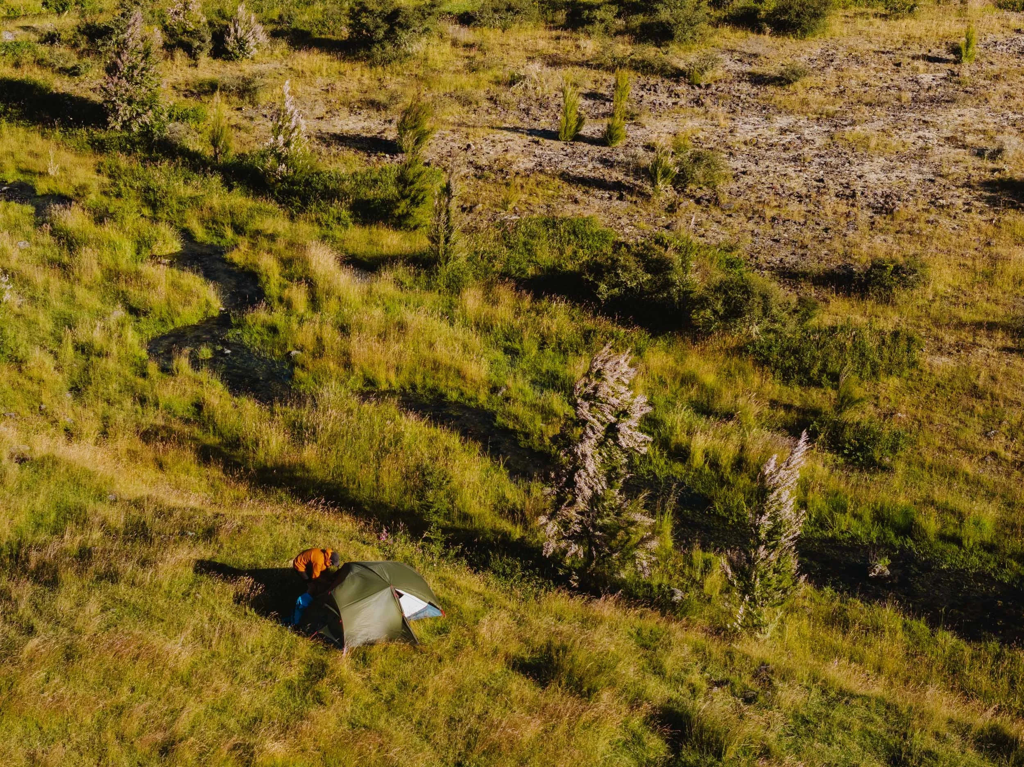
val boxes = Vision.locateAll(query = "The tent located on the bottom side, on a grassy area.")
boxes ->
[310,561,454,660]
